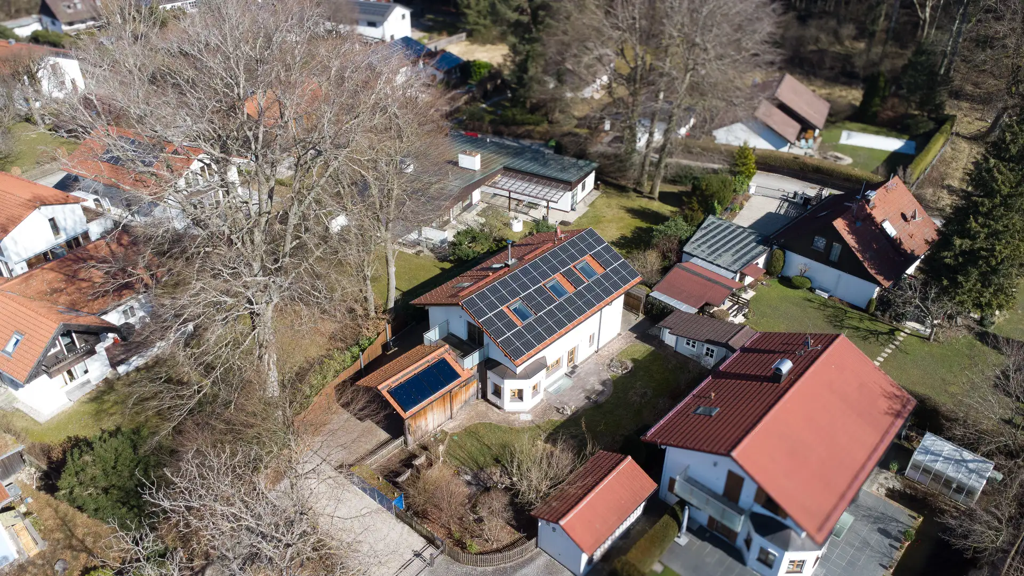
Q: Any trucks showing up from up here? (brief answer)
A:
No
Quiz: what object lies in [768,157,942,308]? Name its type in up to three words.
house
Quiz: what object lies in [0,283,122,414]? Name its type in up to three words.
house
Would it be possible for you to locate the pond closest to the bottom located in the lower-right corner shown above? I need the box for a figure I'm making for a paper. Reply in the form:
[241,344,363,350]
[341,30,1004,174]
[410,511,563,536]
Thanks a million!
[902,509,1005,576]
